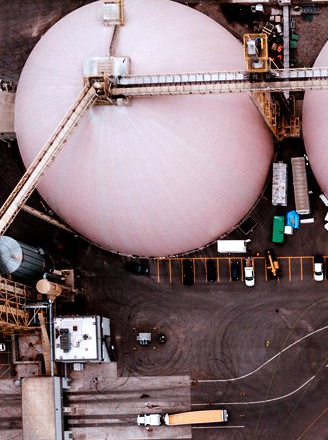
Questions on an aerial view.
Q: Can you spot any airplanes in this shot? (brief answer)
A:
No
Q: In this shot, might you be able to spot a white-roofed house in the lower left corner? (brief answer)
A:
Yes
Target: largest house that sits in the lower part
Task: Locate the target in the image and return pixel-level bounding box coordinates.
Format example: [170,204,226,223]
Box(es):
[54,317,114,362]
